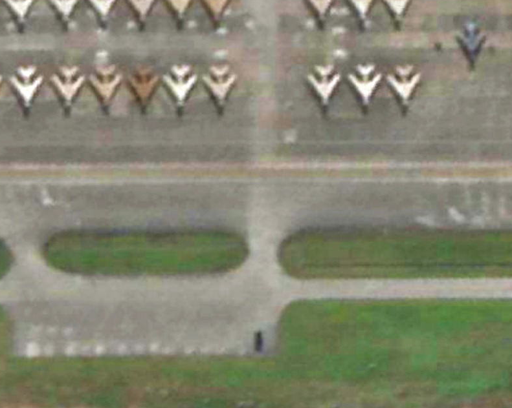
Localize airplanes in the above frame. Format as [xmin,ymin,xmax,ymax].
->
[90,0,114,24]
[350,0,372,23]
[130,0,154,25]
[309,64,341,109]
[6,0,32,25]
[349,65,381,109]
[205,0,229,24]
[164,65,197,109]
[168,0,192,24]
[89,65,122,109]
[10,66,44,110]
[204,64,237,109]
[127,66,161,110]
[310,0,333,24]
[52,0,78,25]
[389,65,421,109]
[387,0,410,24]
[52,66,85,110]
